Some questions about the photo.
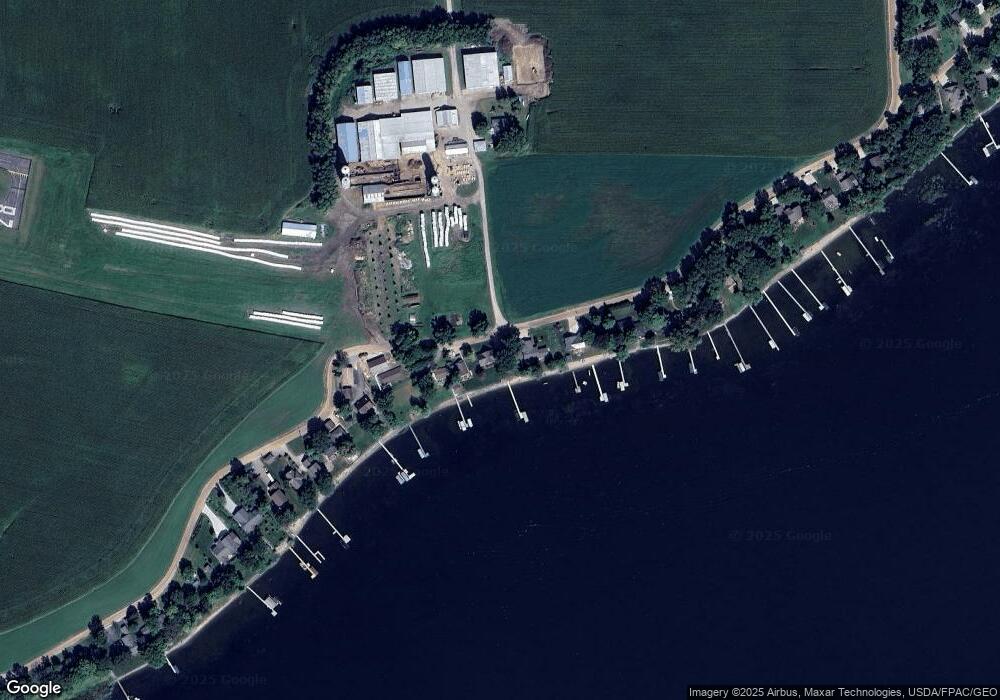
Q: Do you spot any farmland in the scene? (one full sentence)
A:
Yes, farmland shows up in the scene.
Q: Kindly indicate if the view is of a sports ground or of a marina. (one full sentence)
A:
What you see here is a marina.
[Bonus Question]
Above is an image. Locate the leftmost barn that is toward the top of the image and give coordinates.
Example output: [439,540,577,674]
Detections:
[282,223,316,237]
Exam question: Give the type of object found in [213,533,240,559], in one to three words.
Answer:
house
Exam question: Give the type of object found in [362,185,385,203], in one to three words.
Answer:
barn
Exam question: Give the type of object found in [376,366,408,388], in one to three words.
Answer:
shed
